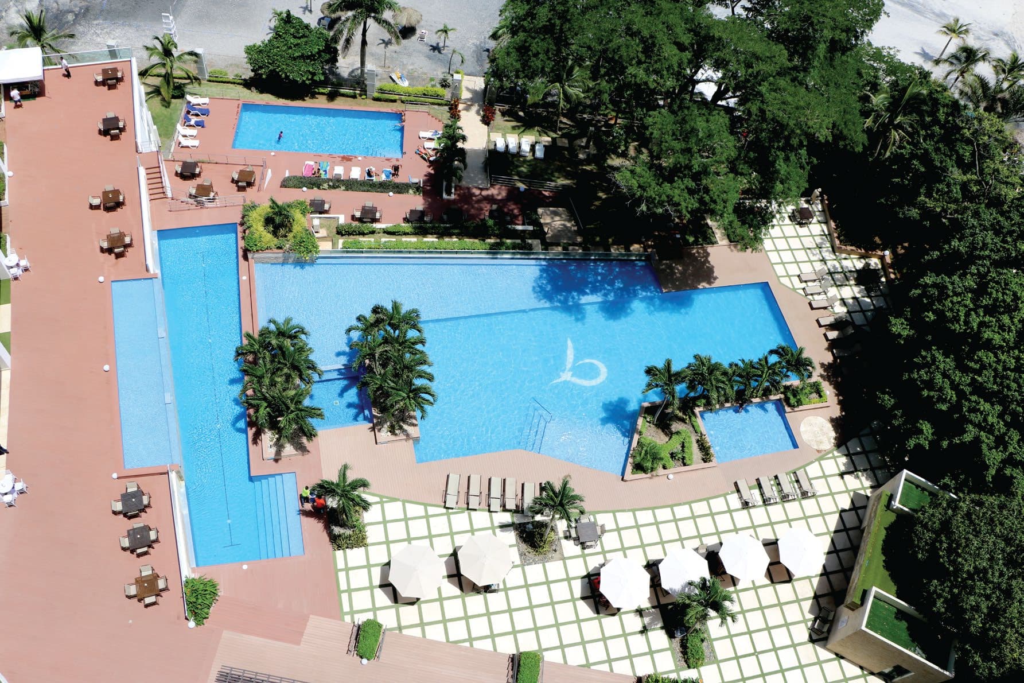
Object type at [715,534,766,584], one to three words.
umbrella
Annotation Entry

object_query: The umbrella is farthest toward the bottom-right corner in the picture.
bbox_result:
[773,531,822,580]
